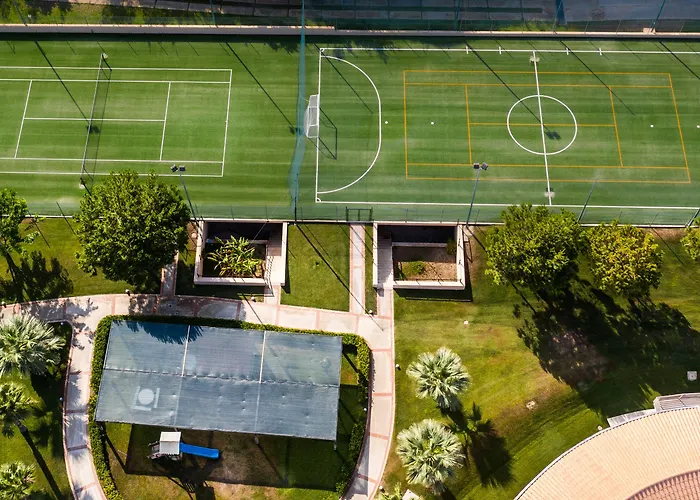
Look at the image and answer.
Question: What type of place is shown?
sports ground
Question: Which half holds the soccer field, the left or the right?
right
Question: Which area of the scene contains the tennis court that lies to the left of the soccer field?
top left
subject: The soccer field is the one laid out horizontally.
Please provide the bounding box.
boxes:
[297,36,700,226]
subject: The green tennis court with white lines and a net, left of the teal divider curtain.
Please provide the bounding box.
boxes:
[0,31,305,221]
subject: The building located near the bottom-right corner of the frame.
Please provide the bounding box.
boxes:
[512,389,700,500]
